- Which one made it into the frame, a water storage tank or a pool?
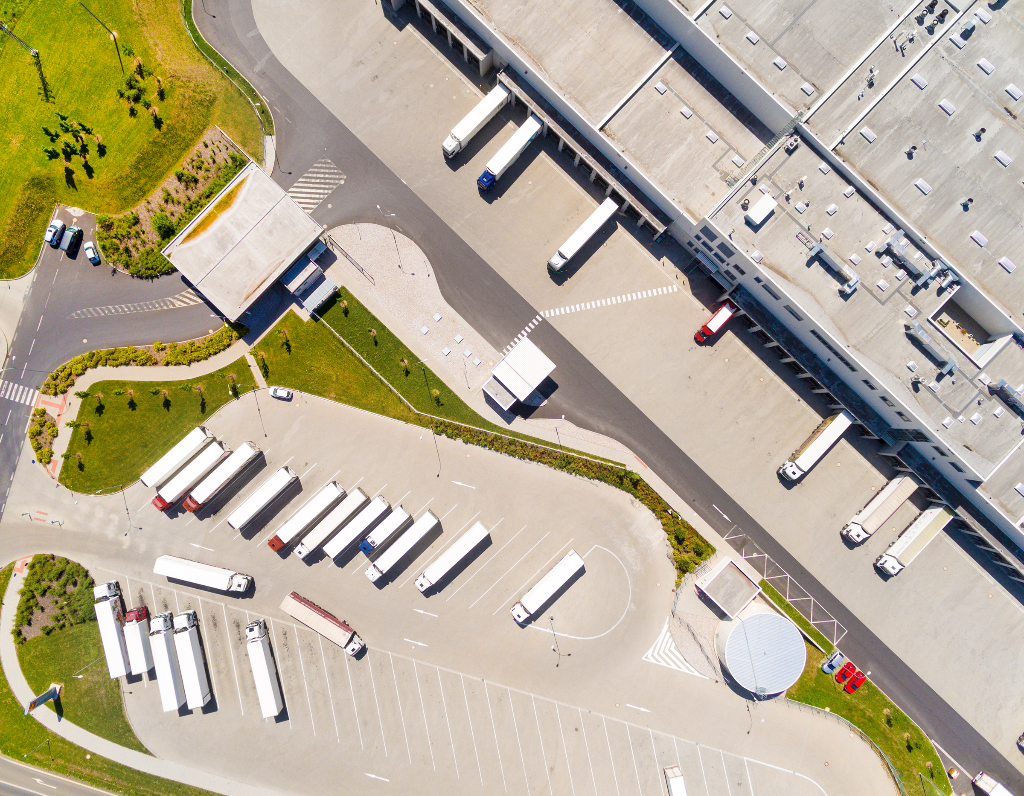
water storage tank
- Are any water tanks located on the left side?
No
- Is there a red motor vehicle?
Yes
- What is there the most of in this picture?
paved ground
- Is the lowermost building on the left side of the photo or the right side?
right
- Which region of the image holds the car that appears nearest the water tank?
bottom right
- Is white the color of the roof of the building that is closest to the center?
Yes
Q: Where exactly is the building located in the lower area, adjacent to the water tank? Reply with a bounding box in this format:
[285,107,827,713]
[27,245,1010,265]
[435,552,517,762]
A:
[695,554,762,619]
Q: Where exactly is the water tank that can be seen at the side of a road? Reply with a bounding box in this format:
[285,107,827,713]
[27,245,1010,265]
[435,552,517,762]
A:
[715,602,807,699]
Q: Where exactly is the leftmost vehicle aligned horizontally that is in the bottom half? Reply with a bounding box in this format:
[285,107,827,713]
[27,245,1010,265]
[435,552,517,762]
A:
[153,555,253,594]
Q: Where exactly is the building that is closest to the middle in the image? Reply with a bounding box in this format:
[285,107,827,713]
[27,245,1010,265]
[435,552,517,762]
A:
[481,336,556,412]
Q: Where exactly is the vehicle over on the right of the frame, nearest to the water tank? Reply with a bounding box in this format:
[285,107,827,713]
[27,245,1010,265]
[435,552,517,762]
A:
[822,650,843,674]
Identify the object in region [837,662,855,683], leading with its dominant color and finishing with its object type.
red car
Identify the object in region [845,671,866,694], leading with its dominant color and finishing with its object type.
red car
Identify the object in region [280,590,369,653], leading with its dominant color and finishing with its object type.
white truck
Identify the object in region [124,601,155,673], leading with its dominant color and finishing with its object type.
white truck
